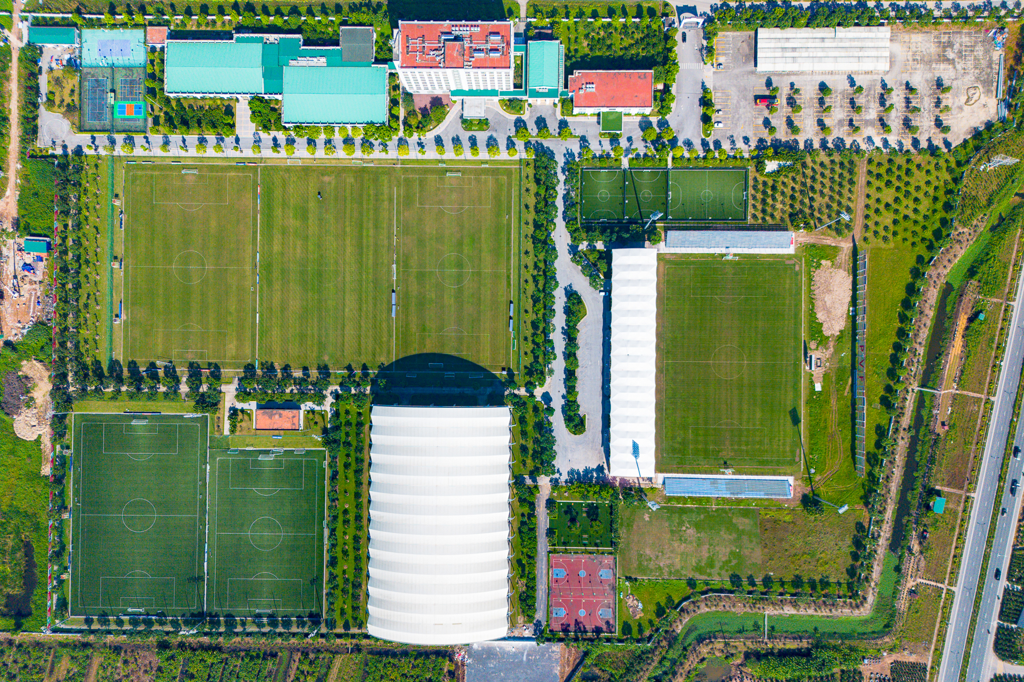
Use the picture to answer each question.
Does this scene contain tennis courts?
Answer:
Yes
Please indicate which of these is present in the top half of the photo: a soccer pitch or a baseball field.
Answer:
soccer pitch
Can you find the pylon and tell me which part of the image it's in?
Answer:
top right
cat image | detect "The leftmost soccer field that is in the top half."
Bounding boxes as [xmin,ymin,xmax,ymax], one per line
[121,163,258,370]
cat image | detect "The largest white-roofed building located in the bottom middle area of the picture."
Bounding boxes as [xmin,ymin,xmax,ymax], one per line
[360,404,517,644]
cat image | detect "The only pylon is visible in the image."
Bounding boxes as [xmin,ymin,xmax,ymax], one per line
[984,151,1015,172]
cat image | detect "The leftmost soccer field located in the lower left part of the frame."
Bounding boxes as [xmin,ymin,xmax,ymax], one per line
[71,413,207,617]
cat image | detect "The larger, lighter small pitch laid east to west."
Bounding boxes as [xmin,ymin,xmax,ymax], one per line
[670,169,746,219]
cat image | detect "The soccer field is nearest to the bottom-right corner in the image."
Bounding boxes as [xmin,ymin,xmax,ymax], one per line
[657,256,802,469]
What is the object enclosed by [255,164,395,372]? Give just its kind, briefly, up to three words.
soccer field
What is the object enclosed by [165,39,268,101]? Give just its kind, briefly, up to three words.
building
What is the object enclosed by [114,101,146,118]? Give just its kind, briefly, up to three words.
sports court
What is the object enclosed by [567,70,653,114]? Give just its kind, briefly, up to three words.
building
